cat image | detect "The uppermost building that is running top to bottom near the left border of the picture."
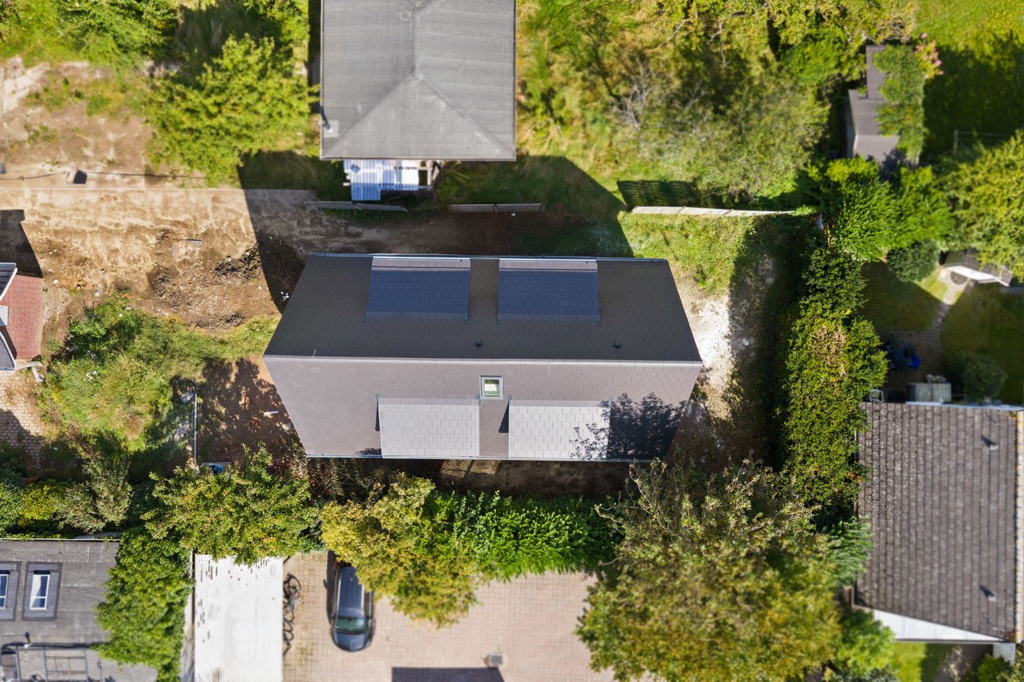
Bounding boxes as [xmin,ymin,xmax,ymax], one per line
[0,262,47,377]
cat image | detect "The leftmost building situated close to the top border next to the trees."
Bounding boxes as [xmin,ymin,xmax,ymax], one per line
[319,0,519,166]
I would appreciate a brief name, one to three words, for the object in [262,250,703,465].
house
